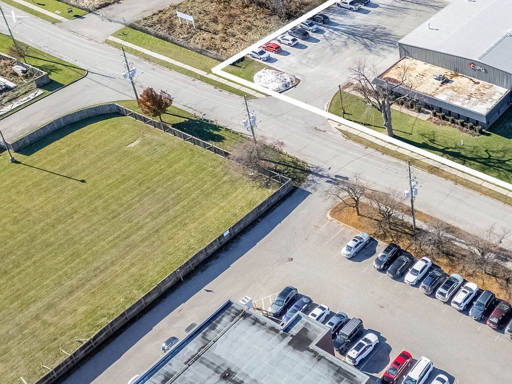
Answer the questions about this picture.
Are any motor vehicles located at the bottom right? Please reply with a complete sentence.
Yes, a motor vehicle appears at the bottom right.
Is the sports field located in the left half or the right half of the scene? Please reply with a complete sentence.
The sports field sits on the left side.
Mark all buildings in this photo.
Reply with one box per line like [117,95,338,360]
[375,0,512,129]
[135,299,373,384]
